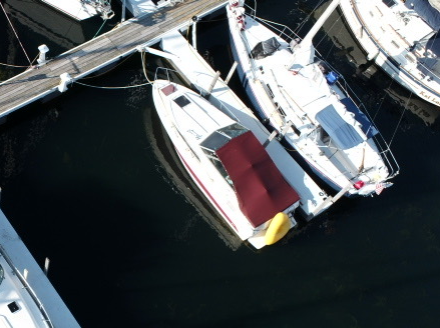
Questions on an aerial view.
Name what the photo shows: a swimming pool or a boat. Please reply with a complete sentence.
I can see a boat in this picture.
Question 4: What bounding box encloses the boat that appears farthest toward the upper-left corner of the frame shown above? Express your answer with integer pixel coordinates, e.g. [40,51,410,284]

[41,0,111,34]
